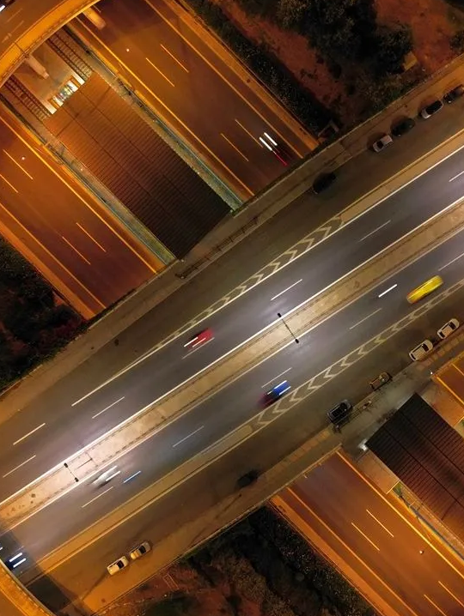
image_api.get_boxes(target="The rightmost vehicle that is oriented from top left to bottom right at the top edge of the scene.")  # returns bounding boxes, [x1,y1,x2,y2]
[83,5,110,31]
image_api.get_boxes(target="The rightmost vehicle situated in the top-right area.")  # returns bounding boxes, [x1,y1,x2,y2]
[441,85,464,106]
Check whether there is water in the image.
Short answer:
No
